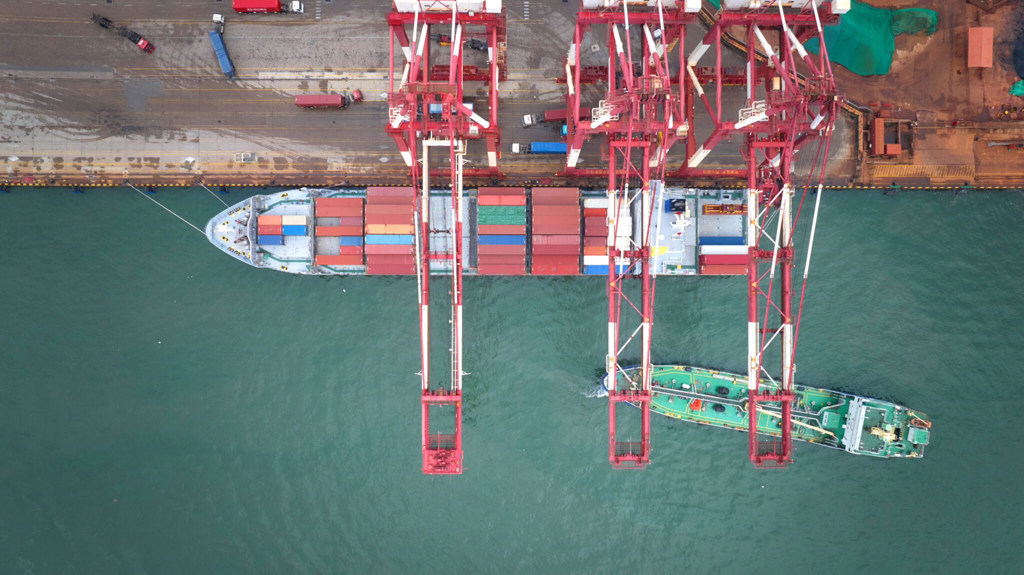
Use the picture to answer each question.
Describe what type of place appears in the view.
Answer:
port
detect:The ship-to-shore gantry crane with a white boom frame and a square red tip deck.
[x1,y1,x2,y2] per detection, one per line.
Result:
[379,0,514,478]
